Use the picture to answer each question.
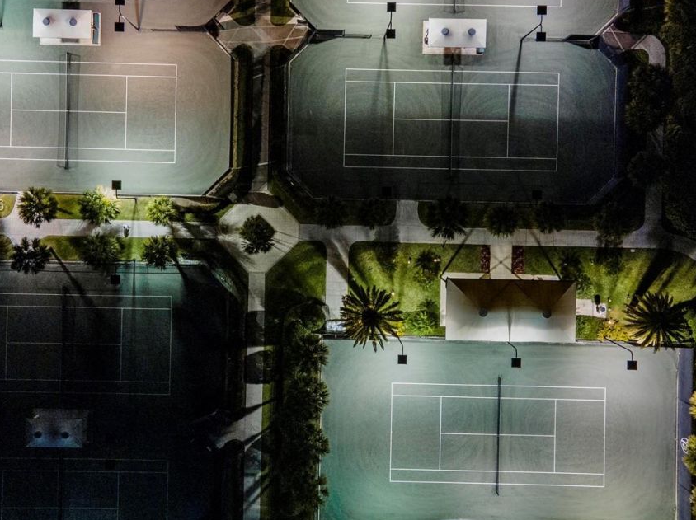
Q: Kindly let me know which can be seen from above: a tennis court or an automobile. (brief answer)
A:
tennis court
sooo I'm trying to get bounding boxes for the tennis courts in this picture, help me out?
[0,258,229,429]
[290,0,619,35]
[0,26,232,197]
[319,339,680,520]
[287,32,618,204]
[0,421,225,520]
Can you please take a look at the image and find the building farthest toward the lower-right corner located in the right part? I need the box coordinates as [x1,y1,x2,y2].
[439,272,576,341]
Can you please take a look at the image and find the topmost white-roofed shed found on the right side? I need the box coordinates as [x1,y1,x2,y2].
[424,16,487,58]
